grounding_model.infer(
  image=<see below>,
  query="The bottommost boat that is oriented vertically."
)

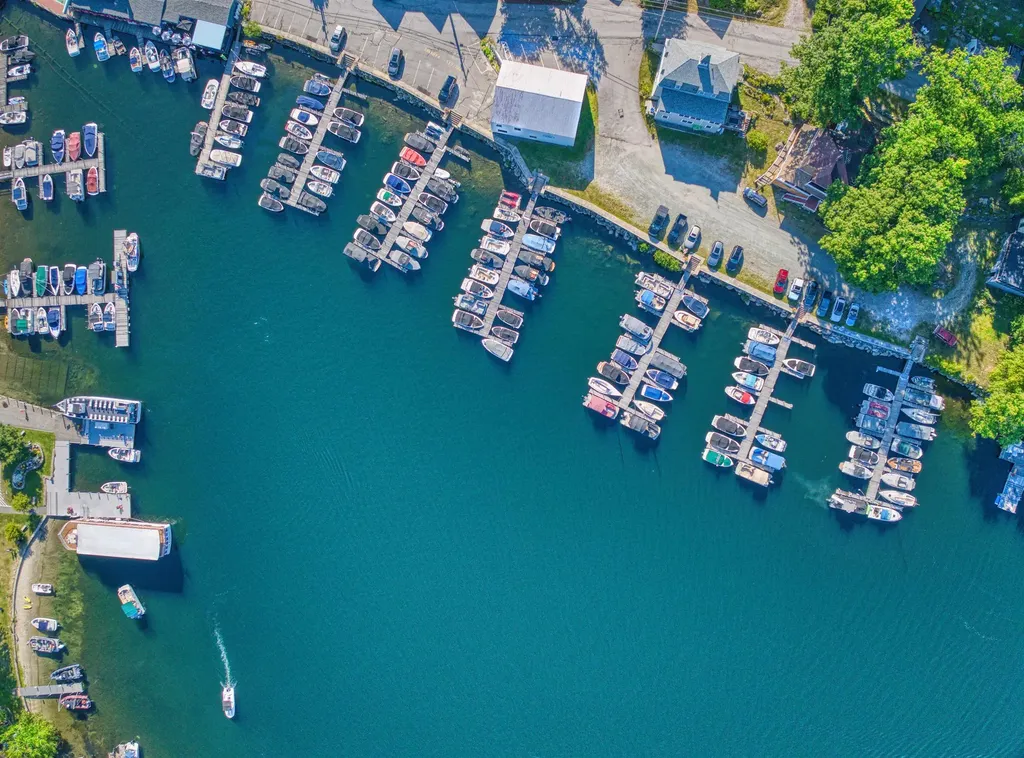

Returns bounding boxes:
[222,686,236,720]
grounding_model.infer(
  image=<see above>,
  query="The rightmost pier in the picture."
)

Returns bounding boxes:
[995,436,1024,513]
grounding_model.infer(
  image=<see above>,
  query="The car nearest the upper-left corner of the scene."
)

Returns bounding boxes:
[330,24,346,54]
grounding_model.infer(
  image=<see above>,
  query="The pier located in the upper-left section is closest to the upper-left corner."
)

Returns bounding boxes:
[0,53,31,116]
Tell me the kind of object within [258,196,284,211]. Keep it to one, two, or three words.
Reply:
boat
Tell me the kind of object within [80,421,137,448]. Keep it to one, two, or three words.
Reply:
pier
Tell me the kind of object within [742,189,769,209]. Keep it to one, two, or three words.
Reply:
vehicle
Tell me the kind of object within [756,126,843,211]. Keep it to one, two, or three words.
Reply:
house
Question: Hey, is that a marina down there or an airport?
marina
